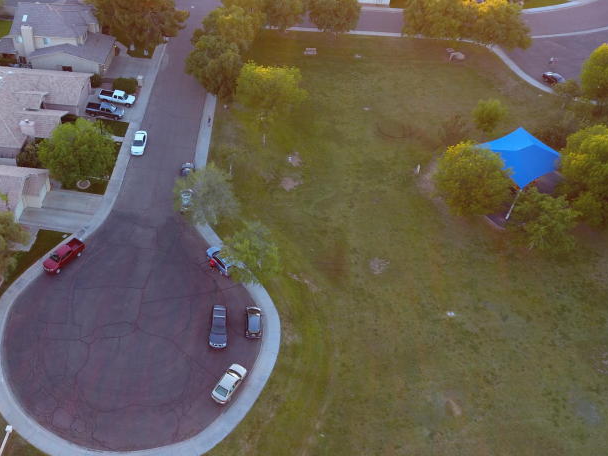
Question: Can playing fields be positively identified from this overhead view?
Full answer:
No, the scene contains no playing field.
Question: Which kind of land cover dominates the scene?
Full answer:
What you mostly see from above here is grass.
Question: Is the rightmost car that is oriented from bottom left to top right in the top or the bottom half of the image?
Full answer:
Seen from above, the rightmost car that is oriented from bottom left to top right lies in the bottom half of the view.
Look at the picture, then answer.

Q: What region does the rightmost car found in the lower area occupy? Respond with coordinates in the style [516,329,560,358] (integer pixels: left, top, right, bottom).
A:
[246,306,263,337]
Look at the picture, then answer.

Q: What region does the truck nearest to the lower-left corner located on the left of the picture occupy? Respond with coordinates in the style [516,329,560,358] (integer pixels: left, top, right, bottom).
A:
[44,235,84,270]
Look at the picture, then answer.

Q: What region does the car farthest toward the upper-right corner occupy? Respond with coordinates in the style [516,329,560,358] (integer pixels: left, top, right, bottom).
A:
[540,69,569,84]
